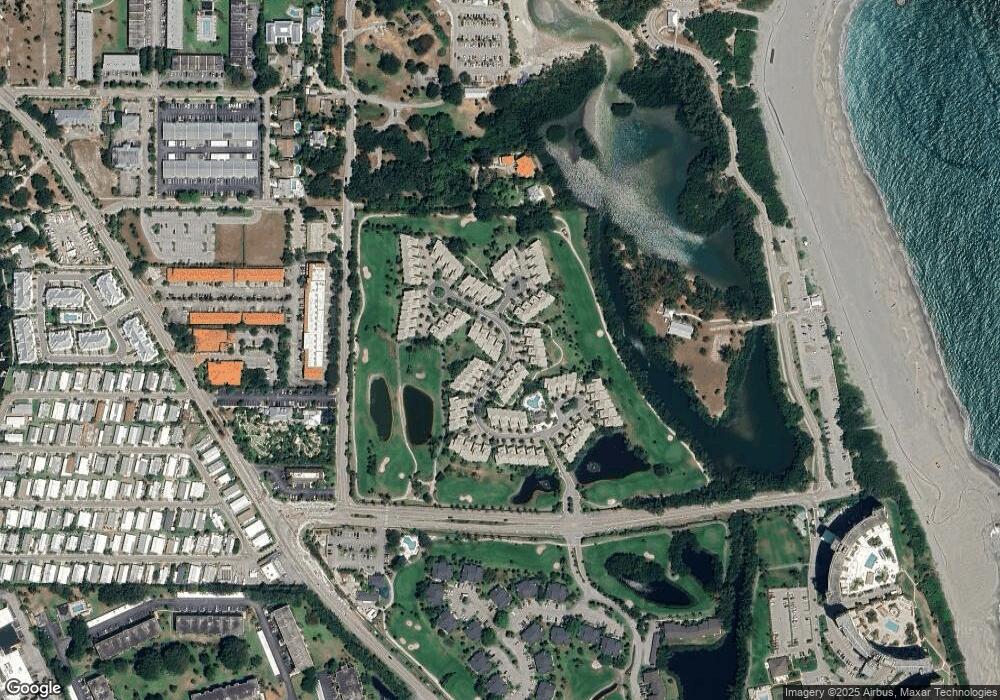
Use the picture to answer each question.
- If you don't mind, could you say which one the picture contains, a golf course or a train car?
golf course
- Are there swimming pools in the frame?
Yes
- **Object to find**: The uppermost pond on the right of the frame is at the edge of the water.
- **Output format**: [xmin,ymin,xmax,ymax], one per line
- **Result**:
[527,0,752,290]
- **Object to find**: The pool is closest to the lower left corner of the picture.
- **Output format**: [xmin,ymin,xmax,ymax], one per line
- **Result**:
[69,599,90,617]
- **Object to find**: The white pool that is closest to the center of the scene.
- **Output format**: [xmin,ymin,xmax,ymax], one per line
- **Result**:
[524,391,545,412]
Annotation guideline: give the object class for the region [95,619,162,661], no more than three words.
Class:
building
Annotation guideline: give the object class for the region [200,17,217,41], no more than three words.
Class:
swimming pool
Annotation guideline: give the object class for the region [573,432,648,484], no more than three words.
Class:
pond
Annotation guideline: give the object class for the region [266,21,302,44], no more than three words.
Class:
house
